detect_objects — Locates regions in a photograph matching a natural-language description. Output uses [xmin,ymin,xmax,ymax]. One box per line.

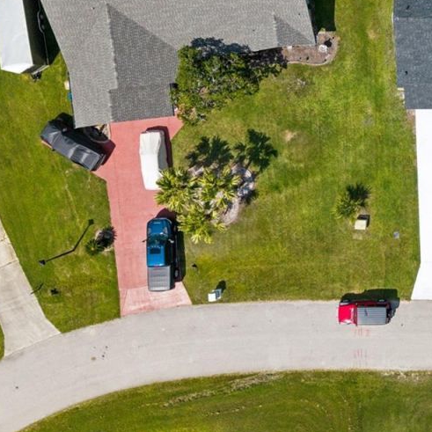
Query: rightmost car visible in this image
[341,301,389,328]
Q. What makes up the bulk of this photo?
grass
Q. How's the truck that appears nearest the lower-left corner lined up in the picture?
from top to bottom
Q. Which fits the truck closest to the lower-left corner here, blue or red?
blue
